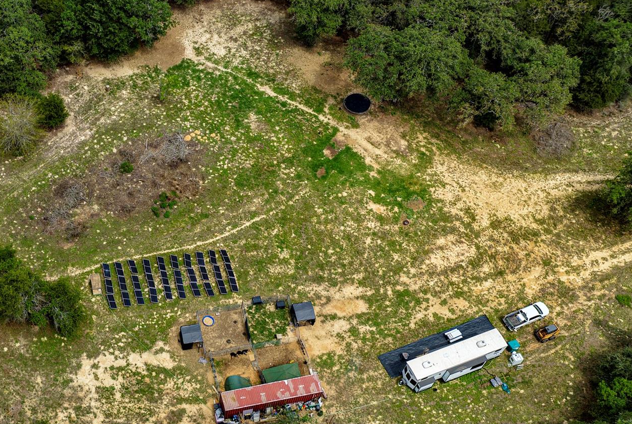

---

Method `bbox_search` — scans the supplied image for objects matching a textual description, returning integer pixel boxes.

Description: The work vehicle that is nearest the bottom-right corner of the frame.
[528,321,563,345]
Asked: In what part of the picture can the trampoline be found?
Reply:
top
